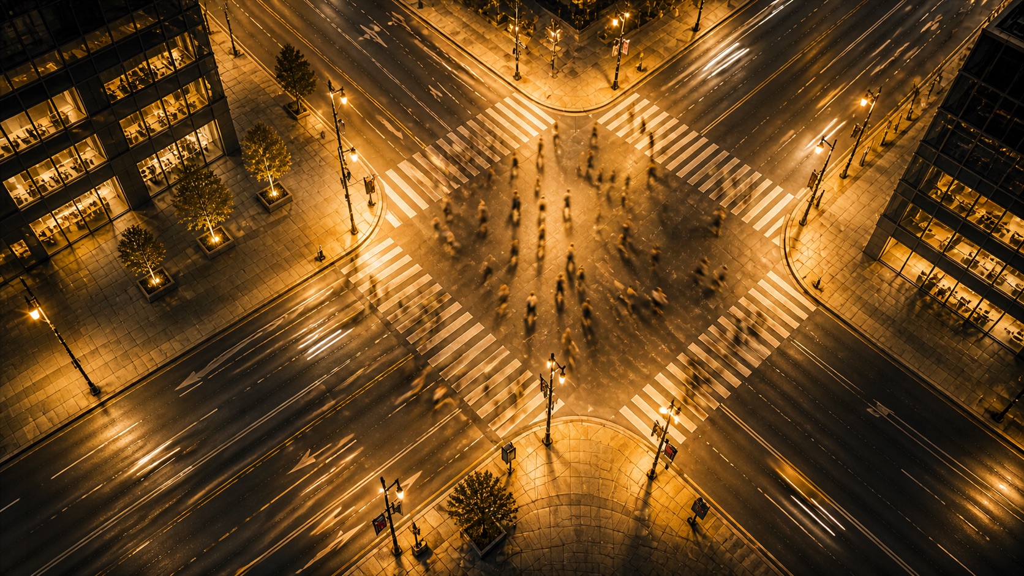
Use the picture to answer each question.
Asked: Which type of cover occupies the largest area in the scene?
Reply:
paved ground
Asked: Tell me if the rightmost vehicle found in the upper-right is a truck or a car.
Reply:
car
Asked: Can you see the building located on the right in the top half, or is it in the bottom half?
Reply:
top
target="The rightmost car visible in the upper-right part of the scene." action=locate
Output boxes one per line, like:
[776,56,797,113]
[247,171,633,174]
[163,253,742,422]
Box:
[800,100,856,152]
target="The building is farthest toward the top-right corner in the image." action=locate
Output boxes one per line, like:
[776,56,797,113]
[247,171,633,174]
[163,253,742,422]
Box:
[863,0,1024,361]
